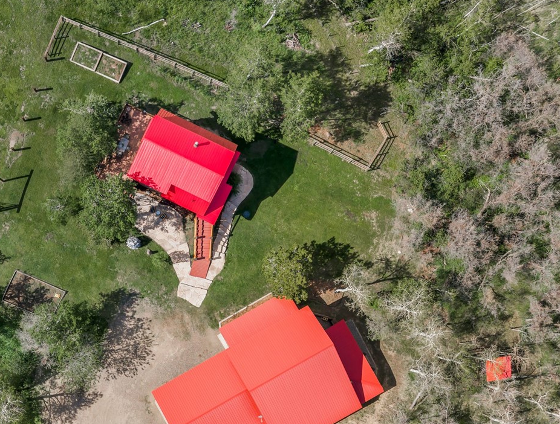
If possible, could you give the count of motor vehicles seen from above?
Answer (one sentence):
There are no motor vehicles in this view.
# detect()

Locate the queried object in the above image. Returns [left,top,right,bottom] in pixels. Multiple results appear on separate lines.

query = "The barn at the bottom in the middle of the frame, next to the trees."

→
[152,294,384,424]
